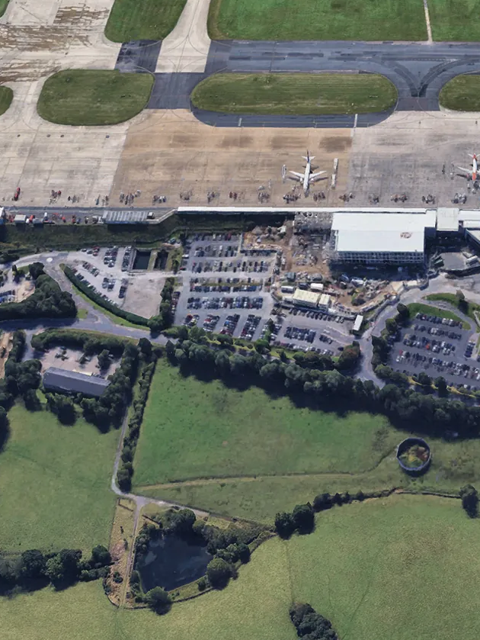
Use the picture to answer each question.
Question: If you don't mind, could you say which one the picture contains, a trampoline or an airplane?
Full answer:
Of the two, only an airplane appears.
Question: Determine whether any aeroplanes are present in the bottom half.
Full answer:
No, there's no aeroplane to be seen in the bottom half.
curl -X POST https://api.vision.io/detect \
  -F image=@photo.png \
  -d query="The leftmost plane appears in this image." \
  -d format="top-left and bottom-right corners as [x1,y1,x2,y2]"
[288,156,325,194]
